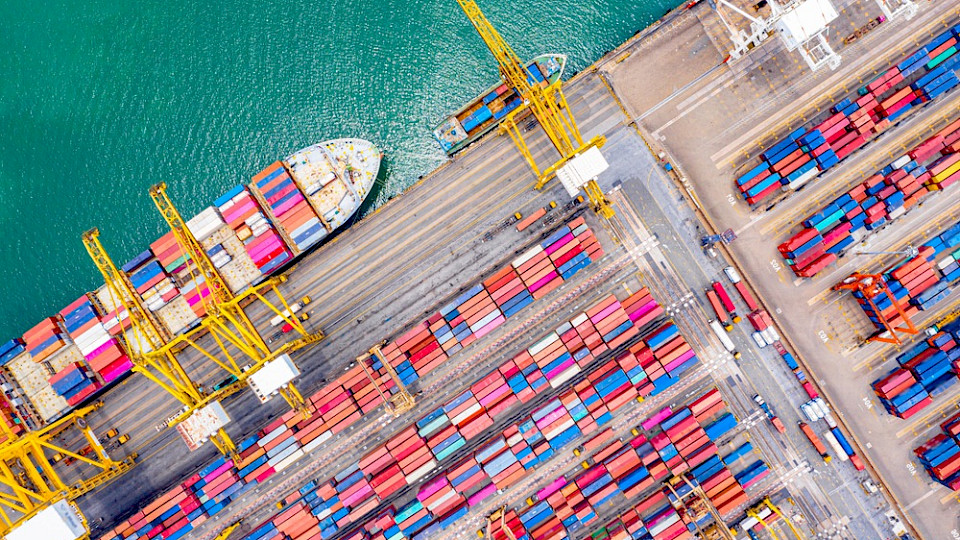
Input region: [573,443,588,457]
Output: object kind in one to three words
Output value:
vehicle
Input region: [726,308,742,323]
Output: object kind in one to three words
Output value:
vehicle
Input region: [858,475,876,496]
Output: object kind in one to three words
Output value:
work vehicle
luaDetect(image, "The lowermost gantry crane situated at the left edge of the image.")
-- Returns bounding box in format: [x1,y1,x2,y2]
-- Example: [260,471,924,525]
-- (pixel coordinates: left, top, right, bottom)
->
[0,404,135,540]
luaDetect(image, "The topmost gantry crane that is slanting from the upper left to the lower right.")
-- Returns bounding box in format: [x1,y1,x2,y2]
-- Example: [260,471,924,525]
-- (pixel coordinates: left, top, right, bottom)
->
[457,0,618,217]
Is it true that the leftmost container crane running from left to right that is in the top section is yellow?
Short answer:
No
